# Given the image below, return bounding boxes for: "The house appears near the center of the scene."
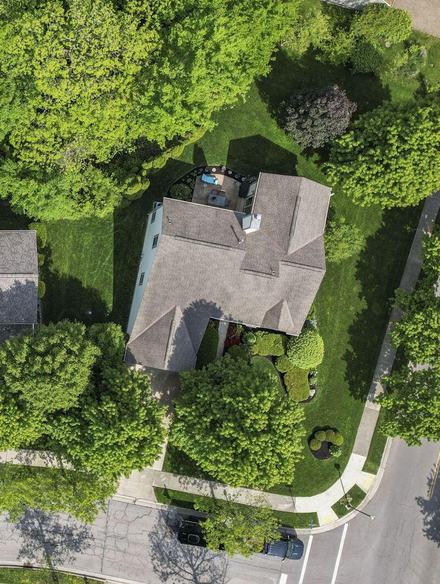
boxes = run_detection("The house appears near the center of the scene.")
[122,172,332,373]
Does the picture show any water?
No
